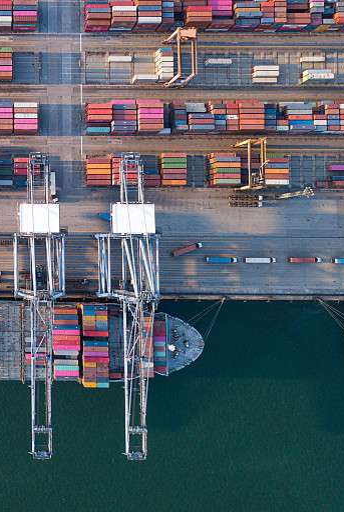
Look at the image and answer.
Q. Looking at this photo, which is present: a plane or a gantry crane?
gantry crane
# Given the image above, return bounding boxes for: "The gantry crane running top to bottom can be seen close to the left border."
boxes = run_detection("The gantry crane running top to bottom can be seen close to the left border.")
[9,149,70,460]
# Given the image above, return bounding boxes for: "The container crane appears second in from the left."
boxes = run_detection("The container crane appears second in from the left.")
[92,149,163,460]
